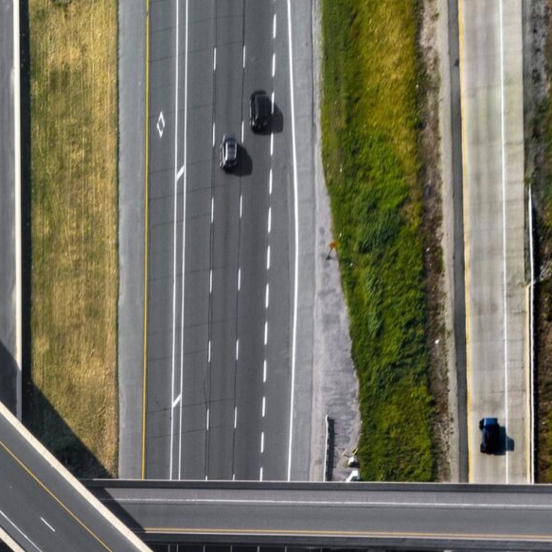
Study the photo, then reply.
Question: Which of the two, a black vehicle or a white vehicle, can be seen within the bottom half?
black vehicle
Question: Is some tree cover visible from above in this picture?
No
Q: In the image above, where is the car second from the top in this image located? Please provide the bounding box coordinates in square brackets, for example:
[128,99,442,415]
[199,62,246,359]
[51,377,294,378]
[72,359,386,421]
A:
[219,136,237,169]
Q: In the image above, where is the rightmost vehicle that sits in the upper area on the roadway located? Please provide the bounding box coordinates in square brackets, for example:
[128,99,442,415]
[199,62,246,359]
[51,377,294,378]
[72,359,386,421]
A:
[250,94,270,131]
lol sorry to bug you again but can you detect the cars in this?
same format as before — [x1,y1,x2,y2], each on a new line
[250,94,270,131]
[219,136,237,169]
[478,419,499,452]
